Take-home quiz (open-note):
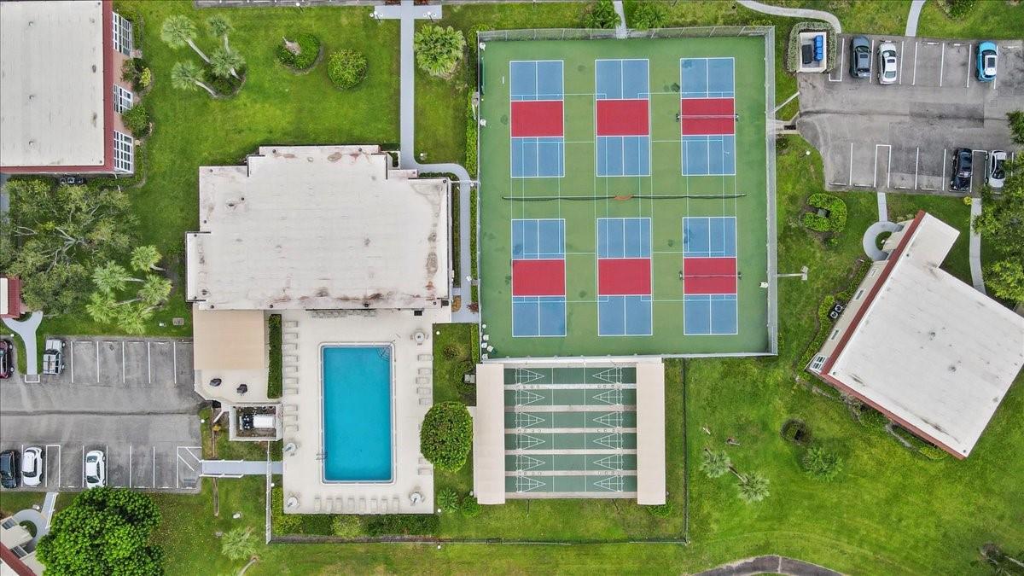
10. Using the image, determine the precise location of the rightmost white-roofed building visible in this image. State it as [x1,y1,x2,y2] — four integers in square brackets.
[807,209,1024,460]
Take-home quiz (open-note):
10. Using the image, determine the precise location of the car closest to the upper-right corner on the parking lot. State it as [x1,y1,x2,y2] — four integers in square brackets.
[974,42,999,82]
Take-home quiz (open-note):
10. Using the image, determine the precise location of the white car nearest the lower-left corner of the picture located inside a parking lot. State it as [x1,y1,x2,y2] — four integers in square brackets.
[21,448,44,487]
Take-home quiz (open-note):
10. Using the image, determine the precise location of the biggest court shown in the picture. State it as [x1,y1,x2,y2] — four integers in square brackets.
[480,37,769,358]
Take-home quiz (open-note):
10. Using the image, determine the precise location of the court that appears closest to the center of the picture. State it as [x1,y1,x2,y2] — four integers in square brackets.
[511,219,566,337]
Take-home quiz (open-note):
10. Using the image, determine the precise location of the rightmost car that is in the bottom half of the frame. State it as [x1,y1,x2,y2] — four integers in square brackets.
[84,450,106,490]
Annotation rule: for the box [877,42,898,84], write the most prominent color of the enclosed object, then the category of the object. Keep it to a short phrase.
white car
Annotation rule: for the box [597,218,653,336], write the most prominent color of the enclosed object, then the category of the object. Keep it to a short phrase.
blue sports court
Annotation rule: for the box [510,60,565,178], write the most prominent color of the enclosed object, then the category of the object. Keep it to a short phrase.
blue sports court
